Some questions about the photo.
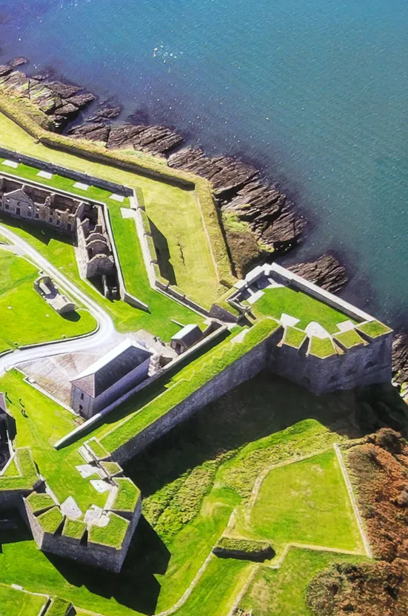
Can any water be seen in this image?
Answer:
Yes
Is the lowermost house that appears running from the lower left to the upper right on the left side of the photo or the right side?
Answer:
left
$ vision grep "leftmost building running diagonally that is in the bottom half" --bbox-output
[69,339,154,418]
